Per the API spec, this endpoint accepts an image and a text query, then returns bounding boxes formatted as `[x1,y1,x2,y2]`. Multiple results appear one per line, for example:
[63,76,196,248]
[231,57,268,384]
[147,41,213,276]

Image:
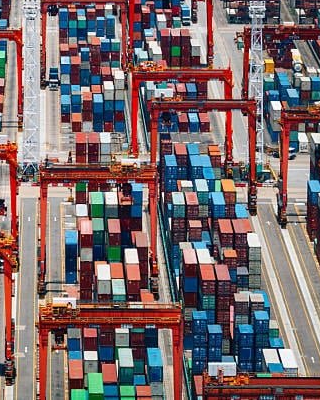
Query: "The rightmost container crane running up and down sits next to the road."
[275,104,320,224]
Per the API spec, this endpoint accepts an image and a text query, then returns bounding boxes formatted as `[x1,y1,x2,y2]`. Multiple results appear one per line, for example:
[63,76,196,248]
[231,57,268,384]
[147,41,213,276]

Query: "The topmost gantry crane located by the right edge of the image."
[236,16,320,125]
